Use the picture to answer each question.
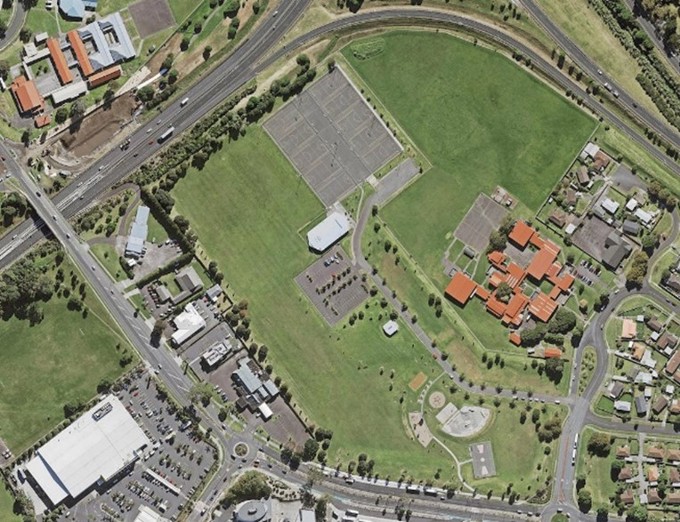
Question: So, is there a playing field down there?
Yes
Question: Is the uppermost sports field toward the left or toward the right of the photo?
right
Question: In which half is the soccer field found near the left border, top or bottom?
bottom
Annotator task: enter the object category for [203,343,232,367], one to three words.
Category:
building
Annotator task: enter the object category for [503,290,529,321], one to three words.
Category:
building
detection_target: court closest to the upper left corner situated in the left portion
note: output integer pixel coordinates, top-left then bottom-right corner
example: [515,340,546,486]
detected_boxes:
[128,0,176,39]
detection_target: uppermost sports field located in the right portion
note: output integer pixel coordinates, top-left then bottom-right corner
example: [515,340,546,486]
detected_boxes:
[341,30,598,215]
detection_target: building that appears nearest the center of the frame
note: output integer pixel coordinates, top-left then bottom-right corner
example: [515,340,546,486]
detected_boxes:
[307,211,352,251]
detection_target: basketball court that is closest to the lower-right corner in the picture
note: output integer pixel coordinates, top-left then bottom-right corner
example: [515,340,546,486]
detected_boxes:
[469,441,495,479]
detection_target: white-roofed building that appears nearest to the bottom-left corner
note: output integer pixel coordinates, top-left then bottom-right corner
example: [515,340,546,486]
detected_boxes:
[25,458,68,505]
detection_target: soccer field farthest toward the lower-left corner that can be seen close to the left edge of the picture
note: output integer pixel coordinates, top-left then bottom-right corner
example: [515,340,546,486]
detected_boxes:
[0,312,139,455]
